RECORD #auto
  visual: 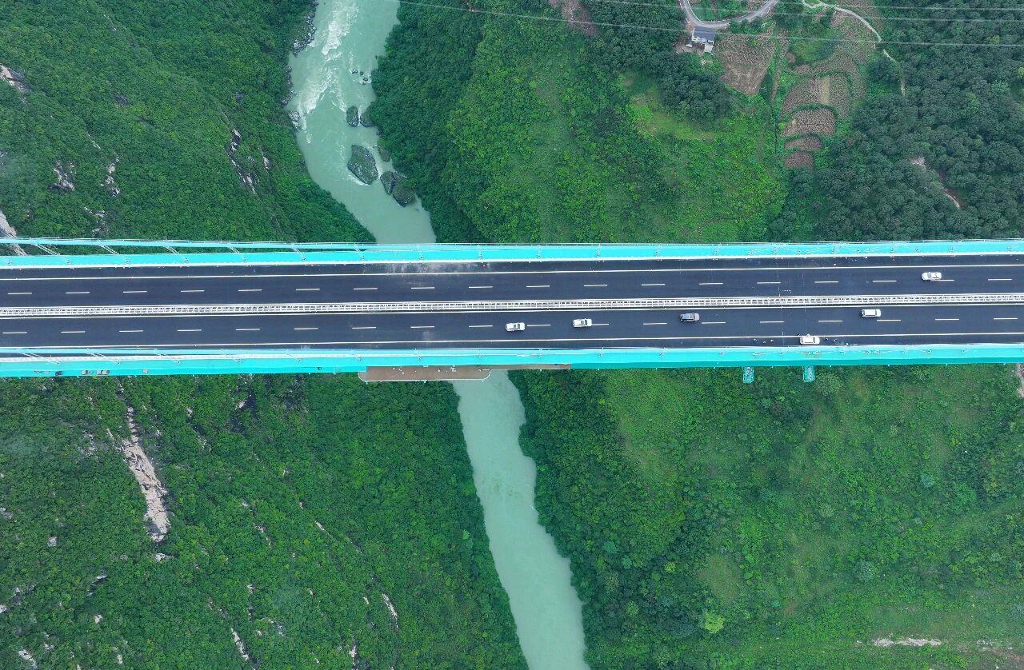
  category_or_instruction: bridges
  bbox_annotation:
[0,239,1024,386]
